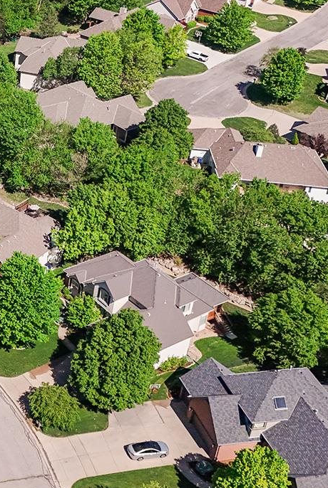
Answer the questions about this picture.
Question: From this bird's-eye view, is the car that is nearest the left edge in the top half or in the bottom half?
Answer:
bottom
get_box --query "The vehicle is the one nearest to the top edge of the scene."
[184,47,212,61]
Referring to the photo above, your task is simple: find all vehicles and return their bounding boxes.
[127,437,174,460]
[184,47,212,61]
